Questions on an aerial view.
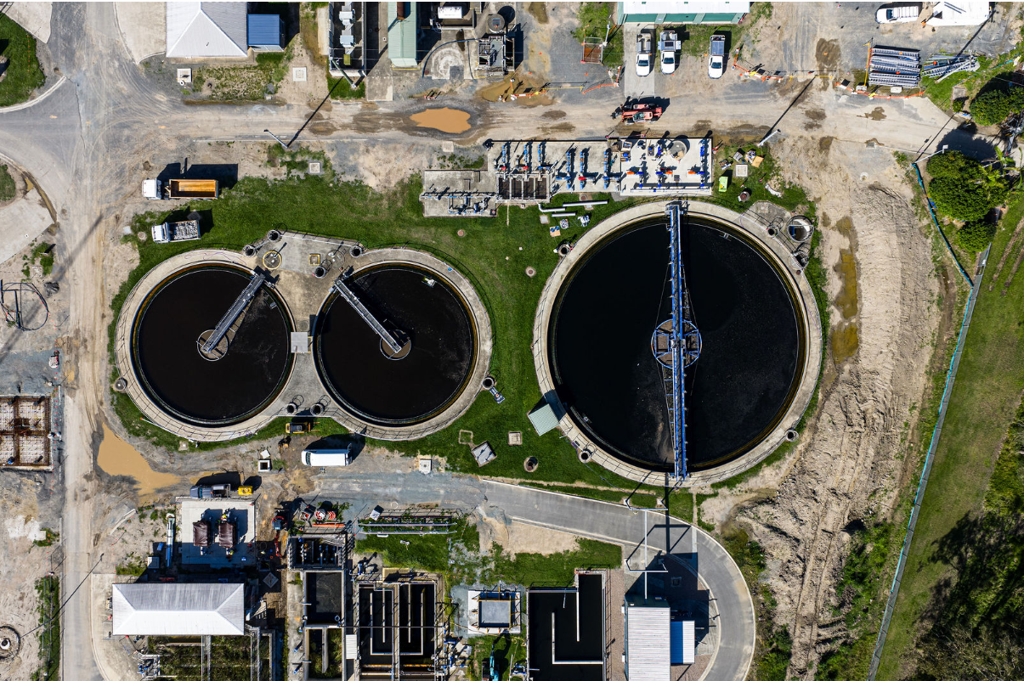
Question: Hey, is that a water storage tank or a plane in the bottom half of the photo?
water storage tank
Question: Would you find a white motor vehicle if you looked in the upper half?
Yes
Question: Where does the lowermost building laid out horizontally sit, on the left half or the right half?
left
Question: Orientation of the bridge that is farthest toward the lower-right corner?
vertically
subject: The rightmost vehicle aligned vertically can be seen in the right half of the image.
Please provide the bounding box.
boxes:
[708,30,727,81]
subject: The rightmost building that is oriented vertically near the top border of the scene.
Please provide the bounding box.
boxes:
[389,0,418,69]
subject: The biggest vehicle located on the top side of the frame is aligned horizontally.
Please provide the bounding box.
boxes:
[140,175,221,201]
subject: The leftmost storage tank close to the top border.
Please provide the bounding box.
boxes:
[432,0,475,29]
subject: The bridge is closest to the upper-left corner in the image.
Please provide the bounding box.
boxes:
[198,263,275,355]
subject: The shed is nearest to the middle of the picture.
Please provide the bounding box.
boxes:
[529,404,560,436]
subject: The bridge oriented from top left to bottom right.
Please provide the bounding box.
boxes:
[321,270,405,354]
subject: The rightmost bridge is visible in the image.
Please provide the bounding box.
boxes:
[656,196,699,487]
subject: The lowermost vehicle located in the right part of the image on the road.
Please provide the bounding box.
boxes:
[607,97,662,124]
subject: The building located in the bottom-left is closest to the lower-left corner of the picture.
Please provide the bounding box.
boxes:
[111,579,250,635]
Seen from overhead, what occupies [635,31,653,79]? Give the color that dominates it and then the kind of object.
white vehicle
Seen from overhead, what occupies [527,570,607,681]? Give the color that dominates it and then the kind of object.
black water tank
